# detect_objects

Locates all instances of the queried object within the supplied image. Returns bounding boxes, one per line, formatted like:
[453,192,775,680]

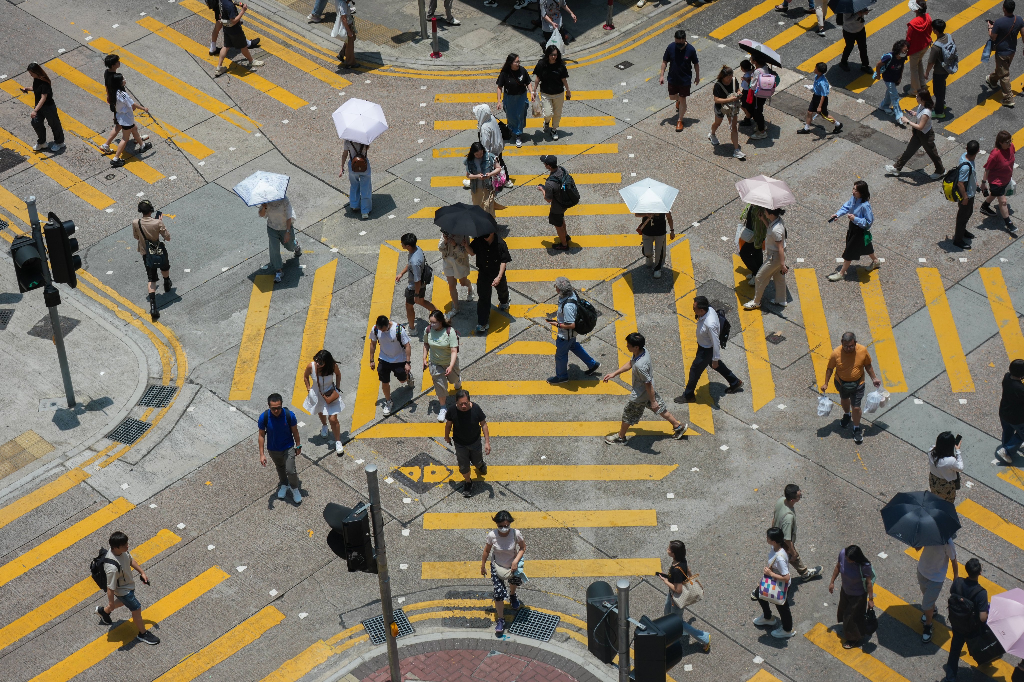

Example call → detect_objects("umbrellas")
[982,587,1024,653]
[735,175,797,229]
[735,48,789,69]
[234,170,294,211]
[331,96,390,144]
[433,197,500,253]
[879,487,964,562]
[617,177,679,211]
[827,0,878,14]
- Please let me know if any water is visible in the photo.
No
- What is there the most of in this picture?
paved ground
